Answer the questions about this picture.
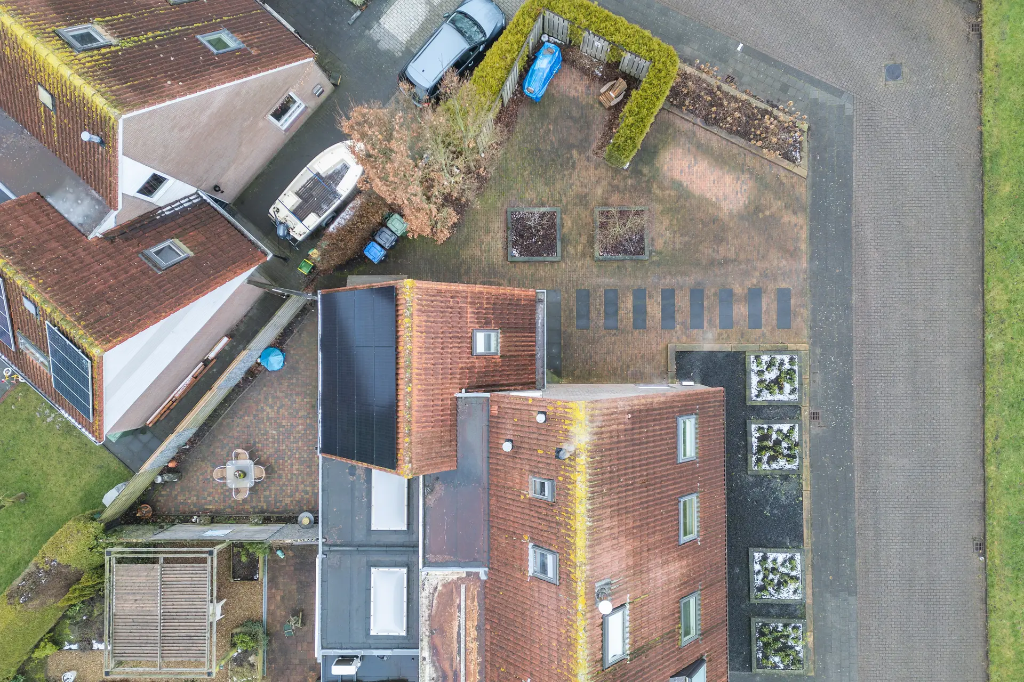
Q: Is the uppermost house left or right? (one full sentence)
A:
It is on the left.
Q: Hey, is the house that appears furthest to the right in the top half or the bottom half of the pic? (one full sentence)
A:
The bottom half of the photo is where the house that appears furthest to the right is.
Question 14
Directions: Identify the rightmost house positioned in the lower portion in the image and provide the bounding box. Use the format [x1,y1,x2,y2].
[478,380,732,682]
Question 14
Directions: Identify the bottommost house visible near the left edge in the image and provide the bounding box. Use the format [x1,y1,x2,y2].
[0,171,295,446]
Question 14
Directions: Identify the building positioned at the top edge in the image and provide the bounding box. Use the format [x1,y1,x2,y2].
[0,0,333,228]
